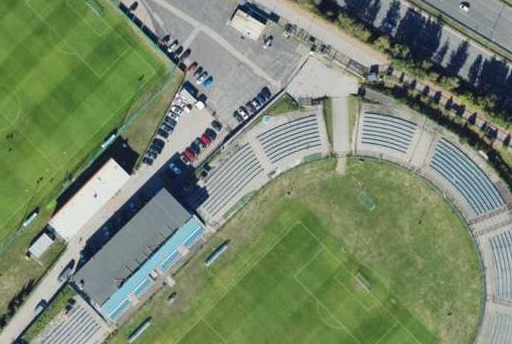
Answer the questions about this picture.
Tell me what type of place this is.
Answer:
sports ground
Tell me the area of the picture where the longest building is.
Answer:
left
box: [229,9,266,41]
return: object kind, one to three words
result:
building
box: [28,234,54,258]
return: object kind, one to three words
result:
shed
